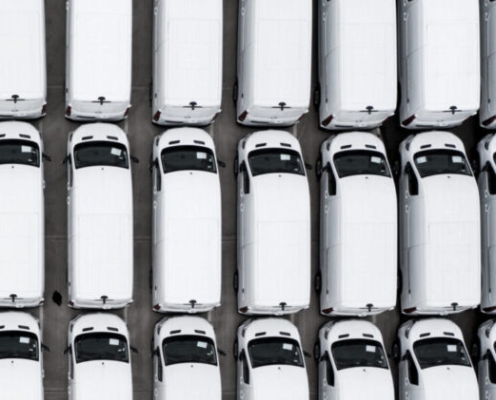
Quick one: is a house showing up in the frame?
No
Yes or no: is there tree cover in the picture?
No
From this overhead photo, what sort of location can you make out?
parking lot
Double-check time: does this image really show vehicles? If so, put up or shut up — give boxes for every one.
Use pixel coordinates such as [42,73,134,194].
[149,0,221,128]
[0,121,51,309]
[150,315,226,400]
[313,319,395,400]
[314,131,398,318]
[233,130,313,316]
[471,0,496,130]
[469,133,496,316]
[148,127,226,314]
[313,0,395,131]
[0,311,50,400]
[233,0,310,128]
[65,0,132,124]
[62,312,139,400]
[392,130,479,318]
[393,0,478,131]
[469,318,496,400]
[392,318,477,400]
[61,123,139,310]
[0,0,47,121]
[233,316,312,400]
